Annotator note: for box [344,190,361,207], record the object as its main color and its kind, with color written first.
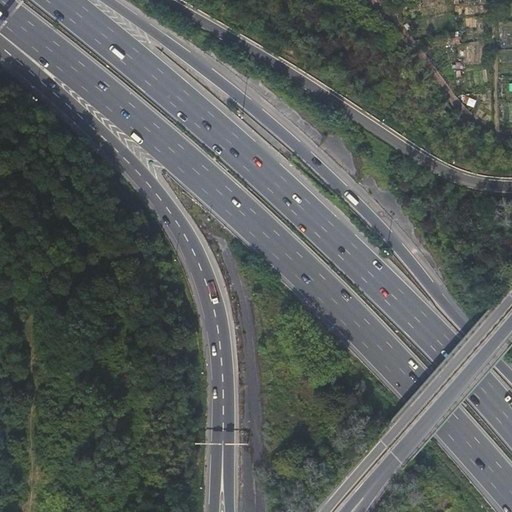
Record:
white vehicle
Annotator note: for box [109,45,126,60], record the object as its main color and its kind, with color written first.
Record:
white vehicle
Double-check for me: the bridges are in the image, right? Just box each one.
[374,289,512,466]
